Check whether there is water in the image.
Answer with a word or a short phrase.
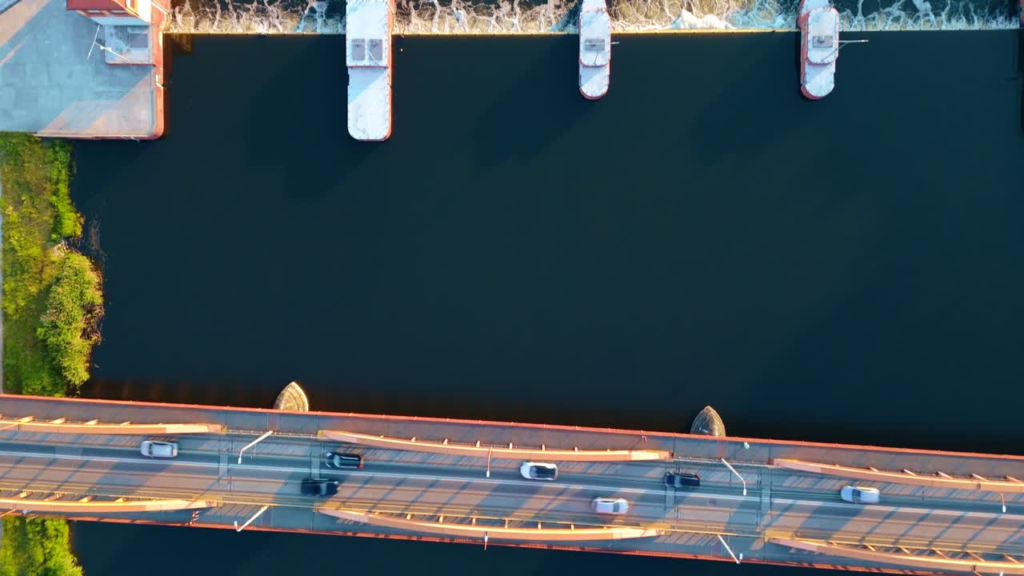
Yes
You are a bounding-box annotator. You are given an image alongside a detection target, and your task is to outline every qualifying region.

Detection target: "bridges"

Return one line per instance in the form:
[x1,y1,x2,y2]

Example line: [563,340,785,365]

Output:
[0,379,1024,576]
